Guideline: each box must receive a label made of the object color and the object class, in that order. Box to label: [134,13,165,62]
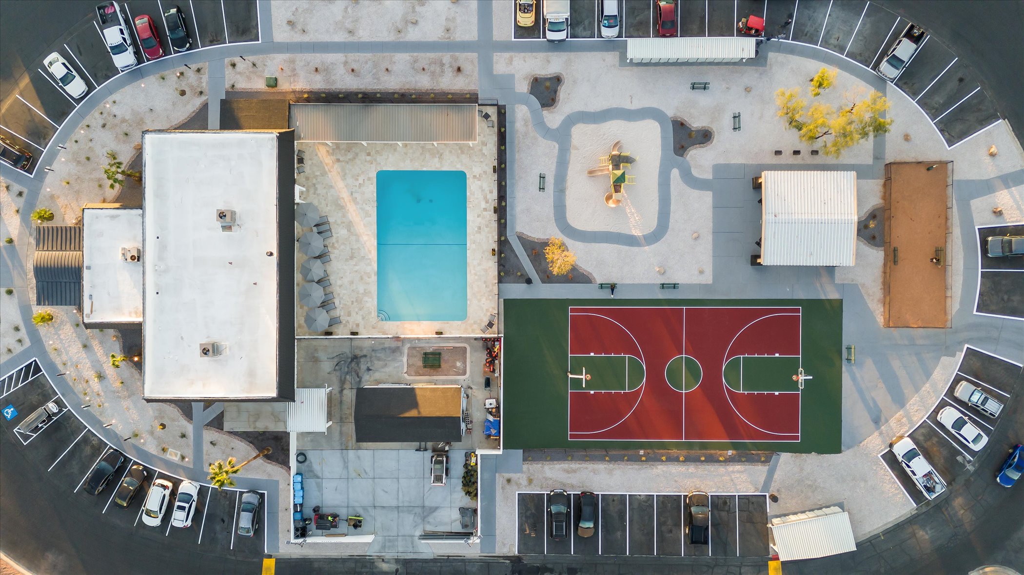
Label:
red car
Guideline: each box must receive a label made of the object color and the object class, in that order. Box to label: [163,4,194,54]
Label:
black car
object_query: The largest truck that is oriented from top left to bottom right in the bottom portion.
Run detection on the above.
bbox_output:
[887,432,950,502]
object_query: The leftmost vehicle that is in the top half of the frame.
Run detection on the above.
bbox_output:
[0,134,35,170]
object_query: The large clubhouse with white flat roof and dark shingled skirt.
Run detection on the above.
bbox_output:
[79,128,312,403]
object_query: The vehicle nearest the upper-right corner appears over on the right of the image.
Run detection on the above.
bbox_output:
[875,20,930,83]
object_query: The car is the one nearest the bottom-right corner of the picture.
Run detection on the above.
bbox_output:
[993,440,1024,488]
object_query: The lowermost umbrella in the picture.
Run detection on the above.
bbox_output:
[303,307,331,335]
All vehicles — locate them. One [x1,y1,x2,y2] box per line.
[113,463,149,511]
[517,0,536,24]
[739,15,772,39]
[163,4,194,54]
[655,0,678,36]
[10,402,62,439]
[887,432,950,502]
[576,490,598,539]
[0,134,35,170]
[429,444,450,487]
[686,489,711,546]
[547,488,570,542]
[875,20,930,83]
[951,381,1006,419]
[174,479,203,529]
[981,234,1024,258]
[993,440,1024,488]
[43,50,91,101]
[93,0,139,73]
[143,478,175,528]
[598,0,622,39]
[134,13,165,62]
[544,0,572,44]
[236,489,262,537]
[83,448,126,497]
[934,406,988,452]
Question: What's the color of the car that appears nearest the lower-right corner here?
blue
